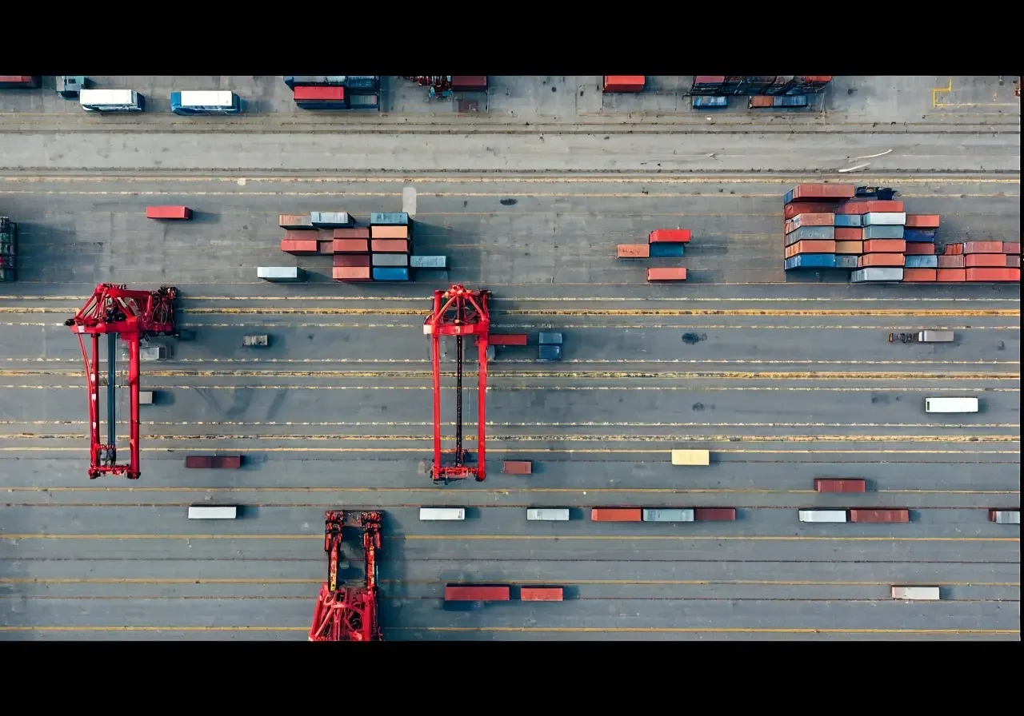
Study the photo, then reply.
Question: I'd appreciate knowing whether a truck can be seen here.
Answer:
Yes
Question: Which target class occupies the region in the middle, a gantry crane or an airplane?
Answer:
gantry crane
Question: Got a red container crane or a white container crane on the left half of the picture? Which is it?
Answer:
red container crane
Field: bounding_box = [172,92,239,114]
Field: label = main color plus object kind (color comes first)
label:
white bus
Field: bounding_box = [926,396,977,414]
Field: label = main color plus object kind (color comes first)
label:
white vehicle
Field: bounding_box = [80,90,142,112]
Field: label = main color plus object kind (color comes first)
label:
white bus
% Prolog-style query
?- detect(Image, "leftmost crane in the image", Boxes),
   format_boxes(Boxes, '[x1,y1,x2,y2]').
[63,283,185,480]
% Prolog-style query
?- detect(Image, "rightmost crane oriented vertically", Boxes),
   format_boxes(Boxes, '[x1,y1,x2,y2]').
[423,282,492,484]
